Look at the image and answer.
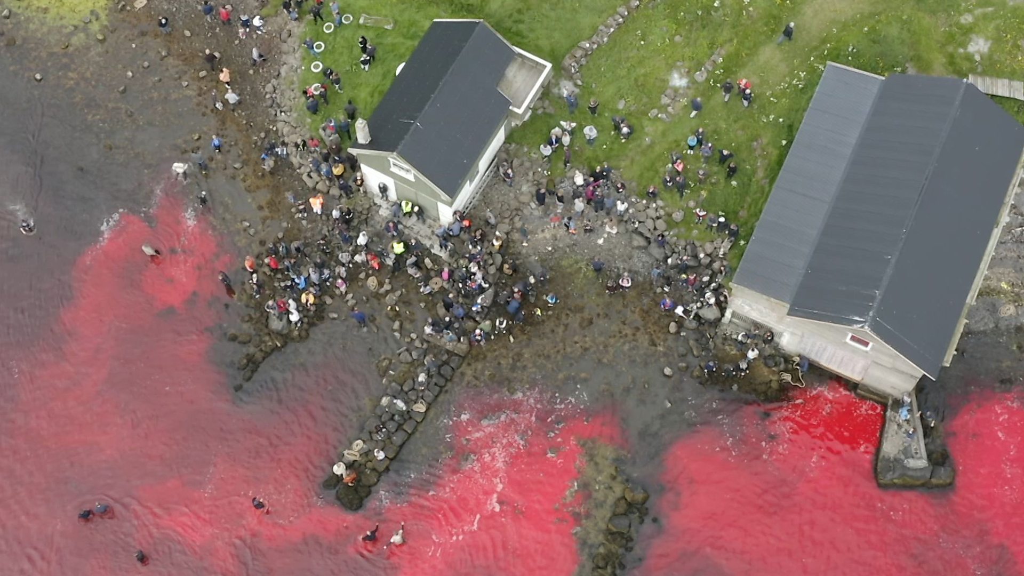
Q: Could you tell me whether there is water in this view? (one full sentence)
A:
Yes, there is water in the image.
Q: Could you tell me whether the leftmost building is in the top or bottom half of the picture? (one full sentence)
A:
The top half of the photo is where the leftmost building is.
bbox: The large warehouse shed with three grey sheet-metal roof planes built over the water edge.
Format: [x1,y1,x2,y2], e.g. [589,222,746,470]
[719,61,1024,406]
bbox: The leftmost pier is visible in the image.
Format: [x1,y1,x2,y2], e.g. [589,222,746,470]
[327,322,469,512]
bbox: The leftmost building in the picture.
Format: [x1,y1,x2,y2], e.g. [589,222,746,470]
[347,17,554,225]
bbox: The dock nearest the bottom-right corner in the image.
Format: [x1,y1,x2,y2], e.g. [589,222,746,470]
[875,396,954,489]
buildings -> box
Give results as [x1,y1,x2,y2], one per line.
[719,61,1024,406]
[347,17,554,225]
